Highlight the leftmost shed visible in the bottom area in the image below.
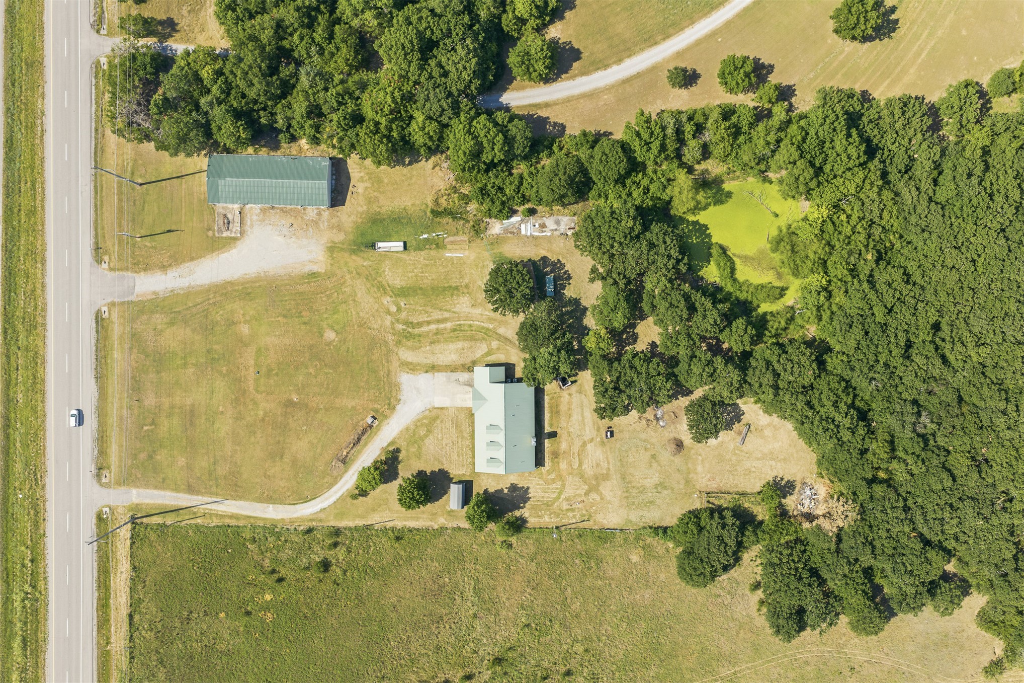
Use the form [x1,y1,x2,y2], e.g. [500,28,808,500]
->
[451,482,465,510]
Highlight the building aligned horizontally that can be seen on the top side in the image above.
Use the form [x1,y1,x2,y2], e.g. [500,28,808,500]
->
[206,153,331,208]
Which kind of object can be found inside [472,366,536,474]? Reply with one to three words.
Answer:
house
